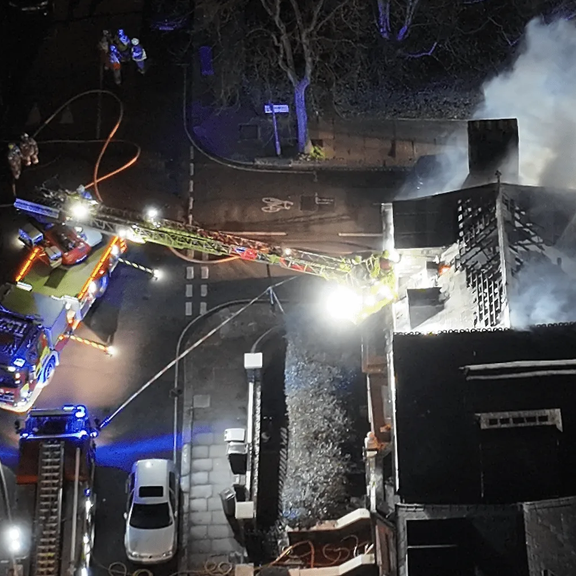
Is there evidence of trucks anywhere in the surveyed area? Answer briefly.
Yes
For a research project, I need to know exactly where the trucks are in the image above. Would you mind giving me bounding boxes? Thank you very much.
[8,401,114,576]
[0,175,406,404]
